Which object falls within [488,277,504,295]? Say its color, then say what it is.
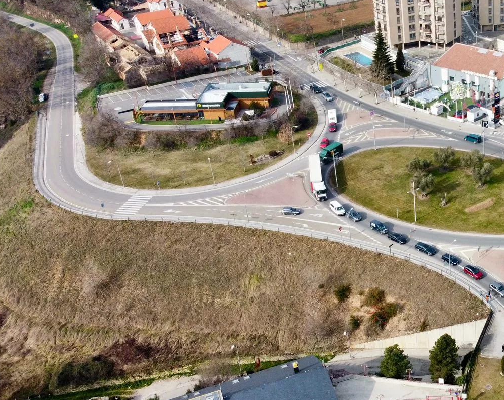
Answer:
gray car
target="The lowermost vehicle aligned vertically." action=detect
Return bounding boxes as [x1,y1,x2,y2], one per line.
[306,157,323,191]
